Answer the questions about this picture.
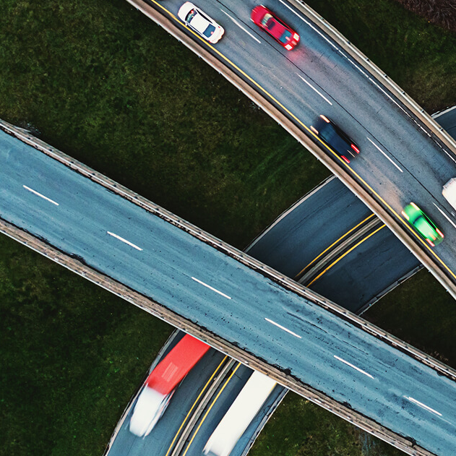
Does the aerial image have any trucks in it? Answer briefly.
Yes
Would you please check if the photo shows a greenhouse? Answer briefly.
No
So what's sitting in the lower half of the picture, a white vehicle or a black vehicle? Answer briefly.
white vehicle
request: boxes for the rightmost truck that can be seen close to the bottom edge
[202,373,276,456]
